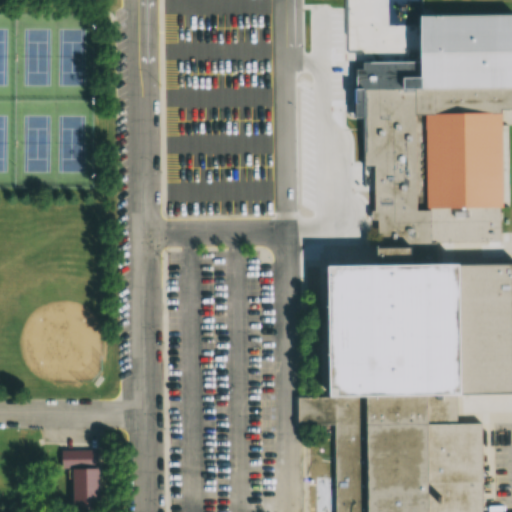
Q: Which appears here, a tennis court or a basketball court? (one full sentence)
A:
This aerial view contains a tennis court.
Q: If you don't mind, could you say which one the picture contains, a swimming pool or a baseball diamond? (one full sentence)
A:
Looking from above, you can make out a baseball diamond.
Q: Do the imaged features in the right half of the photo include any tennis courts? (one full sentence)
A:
No, there is no tennis court in the right half of the photo.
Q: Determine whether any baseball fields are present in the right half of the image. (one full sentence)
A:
No, no baseball field can be made out in the right half of the image.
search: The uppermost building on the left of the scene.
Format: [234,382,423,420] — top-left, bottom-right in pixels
[62,450,94,468]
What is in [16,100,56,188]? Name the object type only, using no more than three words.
tennis court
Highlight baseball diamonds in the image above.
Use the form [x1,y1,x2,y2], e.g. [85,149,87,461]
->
[20,300,104,382]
